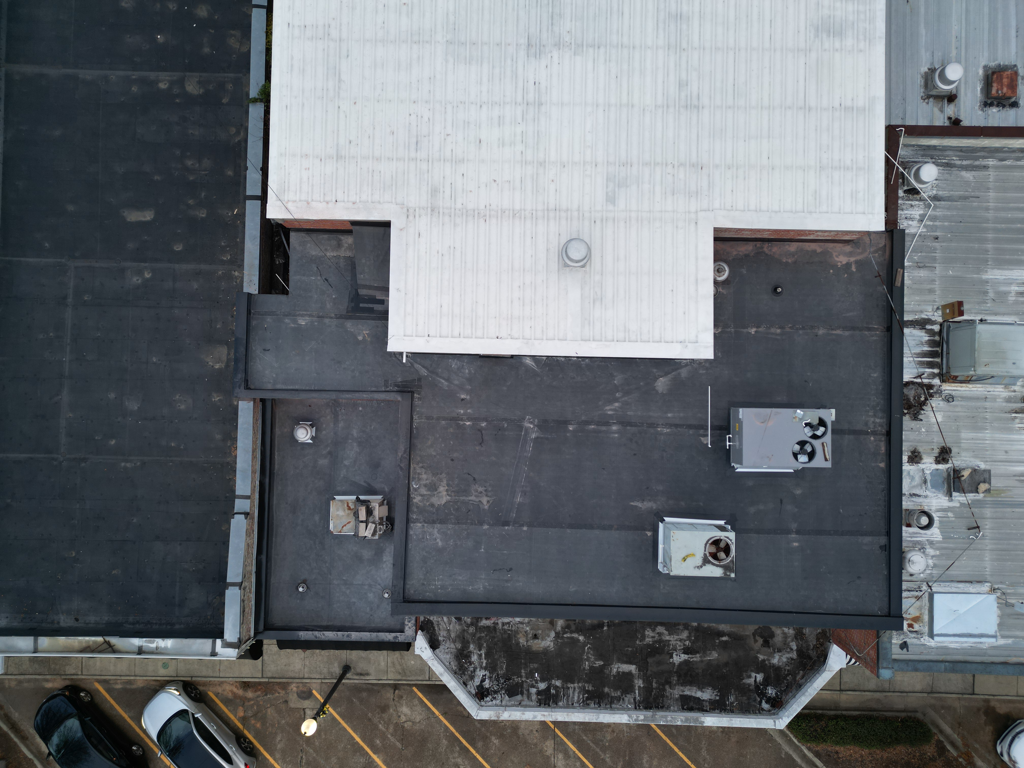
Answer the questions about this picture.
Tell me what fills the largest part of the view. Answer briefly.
buildings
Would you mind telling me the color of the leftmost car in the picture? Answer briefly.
black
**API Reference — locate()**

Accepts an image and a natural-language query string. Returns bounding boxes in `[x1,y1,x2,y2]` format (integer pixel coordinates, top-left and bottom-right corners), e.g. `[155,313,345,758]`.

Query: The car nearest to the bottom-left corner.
[32,683,151,768]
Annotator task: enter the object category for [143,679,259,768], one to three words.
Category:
car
